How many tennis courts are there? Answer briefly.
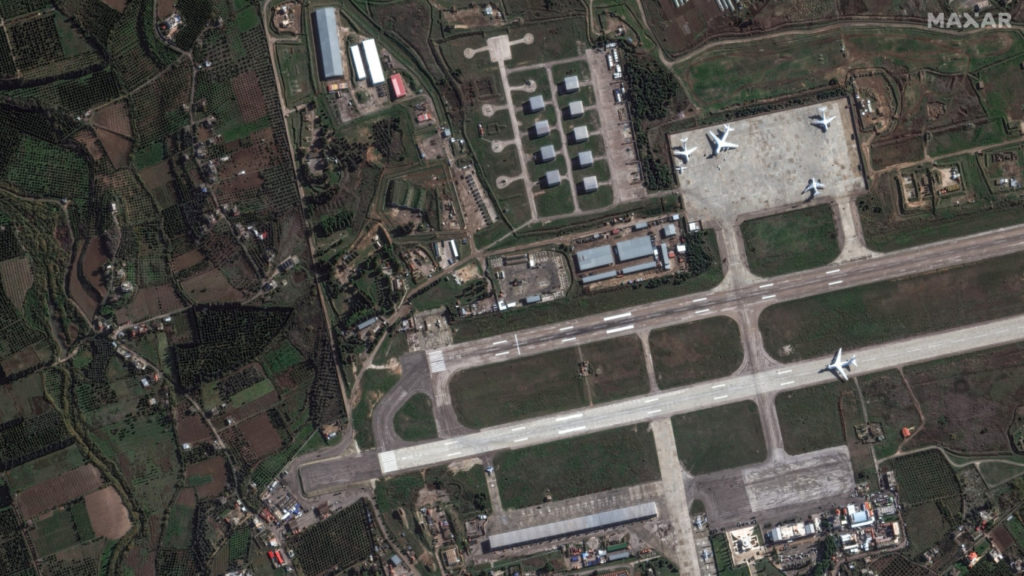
zero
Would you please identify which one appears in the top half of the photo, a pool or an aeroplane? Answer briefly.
aeroplane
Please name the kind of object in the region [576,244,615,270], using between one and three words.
hangar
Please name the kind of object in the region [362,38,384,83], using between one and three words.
building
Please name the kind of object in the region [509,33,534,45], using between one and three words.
helipad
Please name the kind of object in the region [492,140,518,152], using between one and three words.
helipad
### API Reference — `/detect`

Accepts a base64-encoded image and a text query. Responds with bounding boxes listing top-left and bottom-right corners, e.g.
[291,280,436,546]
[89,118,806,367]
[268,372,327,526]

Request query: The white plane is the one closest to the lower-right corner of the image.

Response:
[825,346,858,378]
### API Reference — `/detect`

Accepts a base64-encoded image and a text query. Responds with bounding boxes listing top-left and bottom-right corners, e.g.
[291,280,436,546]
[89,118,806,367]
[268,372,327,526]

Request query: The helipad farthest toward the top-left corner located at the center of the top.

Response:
[464,46,489,58]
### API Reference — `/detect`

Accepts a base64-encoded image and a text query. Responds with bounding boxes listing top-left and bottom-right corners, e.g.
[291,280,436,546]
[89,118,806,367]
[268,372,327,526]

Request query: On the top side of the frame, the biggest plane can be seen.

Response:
[710,122,740,155]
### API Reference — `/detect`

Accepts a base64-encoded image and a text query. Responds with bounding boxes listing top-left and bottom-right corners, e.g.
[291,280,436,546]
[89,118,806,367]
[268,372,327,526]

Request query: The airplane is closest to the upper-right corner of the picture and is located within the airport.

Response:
[811,104,837,132]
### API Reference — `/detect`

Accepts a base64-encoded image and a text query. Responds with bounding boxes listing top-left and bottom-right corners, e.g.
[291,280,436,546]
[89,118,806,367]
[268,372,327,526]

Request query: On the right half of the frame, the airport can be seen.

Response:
[276,35,1024,576]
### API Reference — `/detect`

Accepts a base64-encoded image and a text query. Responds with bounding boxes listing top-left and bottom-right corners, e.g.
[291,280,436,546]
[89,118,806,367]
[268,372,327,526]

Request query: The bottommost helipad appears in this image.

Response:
[498,174,526,187]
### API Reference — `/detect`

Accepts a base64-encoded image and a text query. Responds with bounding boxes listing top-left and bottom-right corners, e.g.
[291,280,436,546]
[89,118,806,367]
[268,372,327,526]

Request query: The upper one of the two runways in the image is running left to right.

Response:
[428,226,1024,375]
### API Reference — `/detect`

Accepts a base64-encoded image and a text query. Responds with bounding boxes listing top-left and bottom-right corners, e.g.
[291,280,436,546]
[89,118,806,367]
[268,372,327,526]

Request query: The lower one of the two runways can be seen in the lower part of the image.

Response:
[378,316,1024,476]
